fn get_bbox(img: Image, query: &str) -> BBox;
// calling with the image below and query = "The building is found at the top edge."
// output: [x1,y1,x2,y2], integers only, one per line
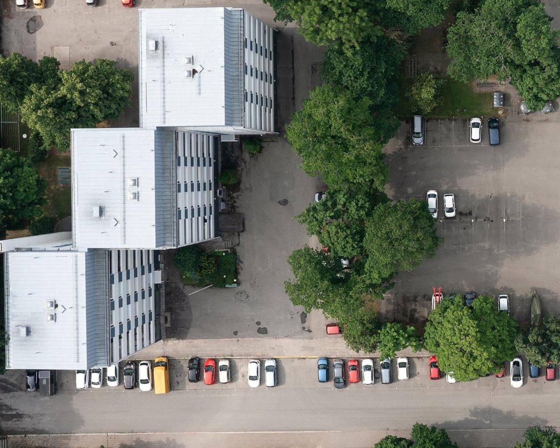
[137,6,278,134]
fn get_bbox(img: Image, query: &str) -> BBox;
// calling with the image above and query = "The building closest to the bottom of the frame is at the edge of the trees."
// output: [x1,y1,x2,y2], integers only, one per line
[0,246,164,371]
